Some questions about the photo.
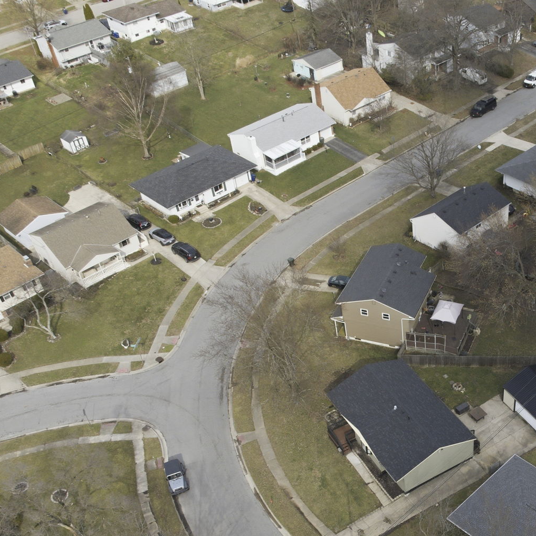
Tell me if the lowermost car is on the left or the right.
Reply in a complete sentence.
The lowermost car sits on the left side.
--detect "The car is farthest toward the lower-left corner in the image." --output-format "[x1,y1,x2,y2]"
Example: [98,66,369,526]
[164,454,190,494]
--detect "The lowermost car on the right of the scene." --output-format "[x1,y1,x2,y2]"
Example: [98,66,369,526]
[326,275,352,289]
